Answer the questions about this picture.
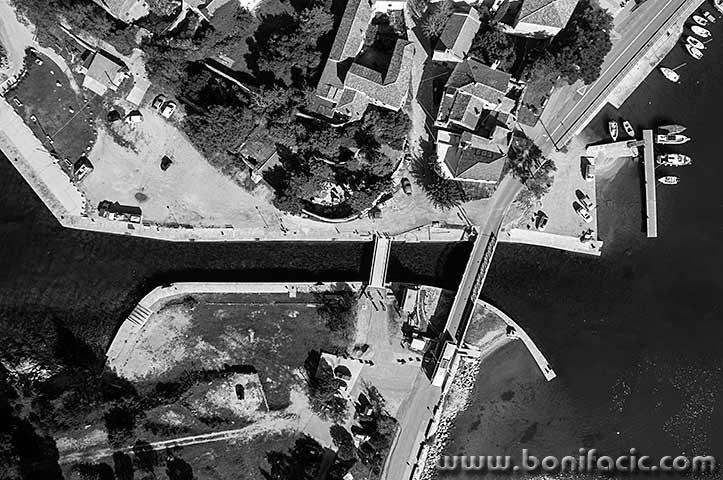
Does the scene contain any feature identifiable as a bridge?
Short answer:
Yes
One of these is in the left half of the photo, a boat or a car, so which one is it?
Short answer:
car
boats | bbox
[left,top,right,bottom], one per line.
[708,0,723,16]
[622,120,633,136]
[609,119,618,141]
[656,153,692,166]
[659,66,681,83]
[685,44,704,62]
[686,35,705,52]
[655,134,691,143]
[691,16,710,28]
[658,125,687,133]
[659,176,681,184]
[691,26,712,39]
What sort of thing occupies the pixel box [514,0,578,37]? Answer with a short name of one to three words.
house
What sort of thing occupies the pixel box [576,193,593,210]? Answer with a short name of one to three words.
car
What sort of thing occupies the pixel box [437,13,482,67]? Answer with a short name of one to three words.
house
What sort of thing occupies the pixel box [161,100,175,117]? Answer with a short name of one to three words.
car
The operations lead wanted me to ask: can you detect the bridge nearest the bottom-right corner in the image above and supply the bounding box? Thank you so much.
[438,213,503,350]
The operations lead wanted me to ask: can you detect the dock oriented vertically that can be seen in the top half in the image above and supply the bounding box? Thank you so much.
[640,130,657,237]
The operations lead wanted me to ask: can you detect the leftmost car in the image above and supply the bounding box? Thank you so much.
[70,164,93,182]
